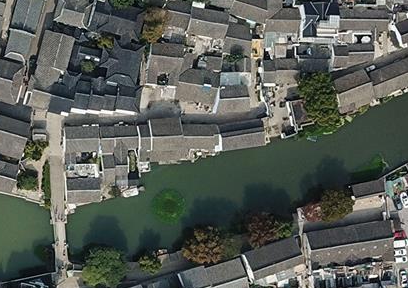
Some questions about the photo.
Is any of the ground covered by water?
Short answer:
Yes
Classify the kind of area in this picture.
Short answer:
residential area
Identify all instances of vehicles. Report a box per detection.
[392,194,402,212]
[399,269,408,287]
[394,231,408,239]
[391,256,408,263]
[396,249,408,256]
[400,191,408,209]
[396,239,408,248]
